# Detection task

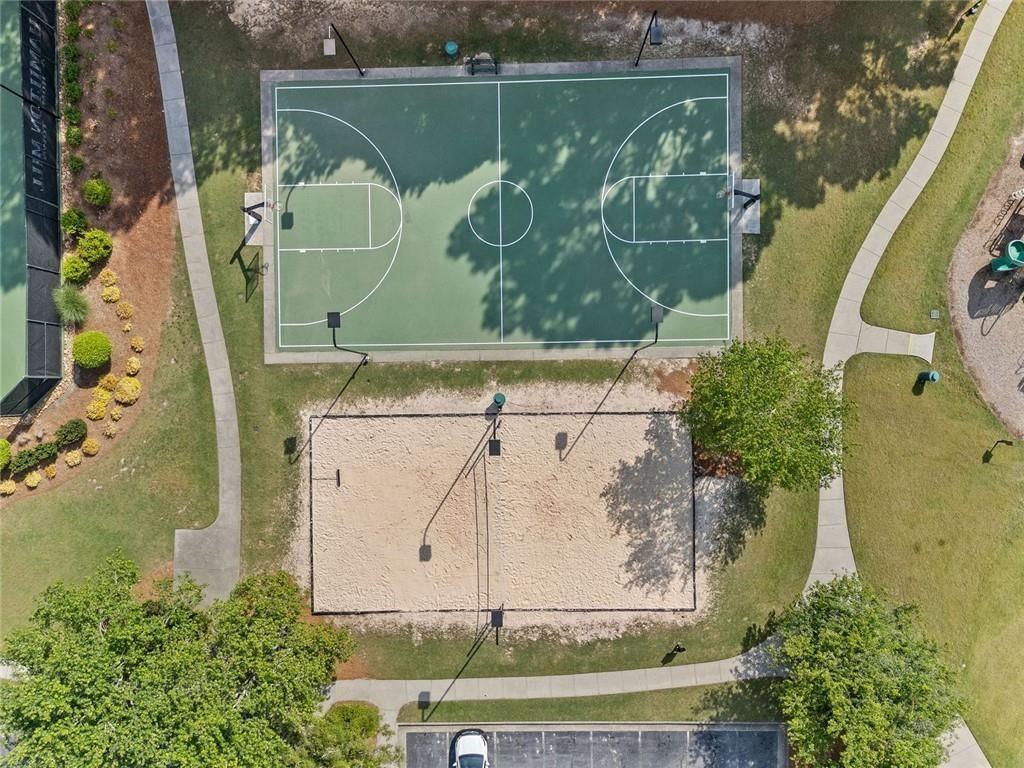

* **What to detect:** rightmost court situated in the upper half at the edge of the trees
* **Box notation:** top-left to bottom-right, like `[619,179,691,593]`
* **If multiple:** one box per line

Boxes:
[260,56,743,363]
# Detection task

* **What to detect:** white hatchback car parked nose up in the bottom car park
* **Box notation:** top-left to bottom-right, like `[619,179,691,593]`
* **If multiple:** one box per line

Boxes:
[451,730,488,768]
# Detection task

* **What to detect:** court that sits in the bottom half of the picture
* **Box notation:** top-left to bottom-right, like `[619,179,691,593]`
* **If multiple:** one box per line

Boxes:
[309,411,696,614]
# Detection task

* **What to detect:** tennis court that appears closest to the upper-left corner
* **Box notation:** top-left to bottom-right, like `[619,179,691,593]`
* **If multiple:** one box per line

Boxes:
[0,0,25,399]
